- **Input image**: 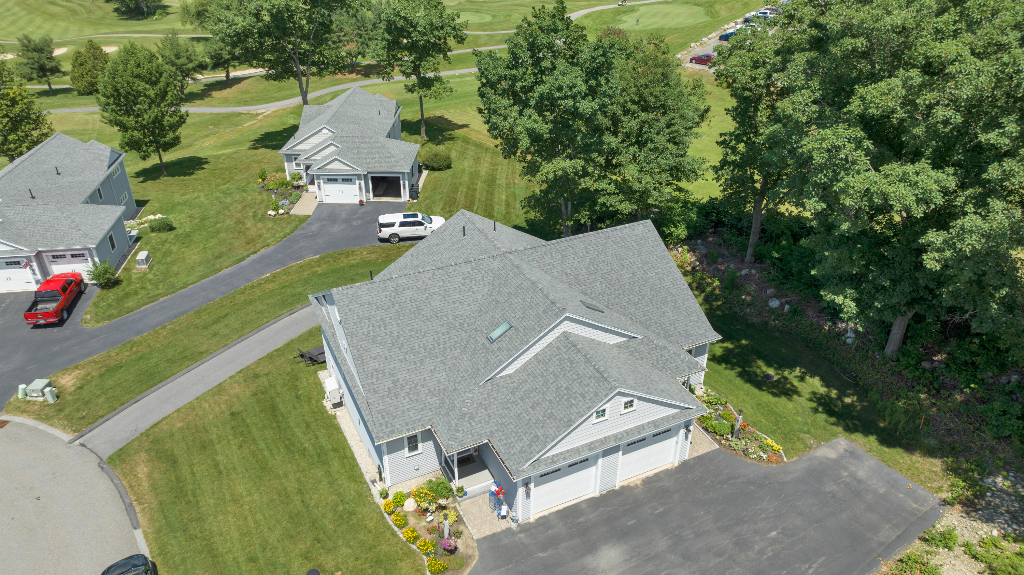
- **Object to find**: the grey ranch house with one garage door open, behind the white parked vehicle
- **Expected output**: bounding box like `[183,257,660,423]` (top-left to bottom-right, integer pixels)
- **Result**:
[280,86,422,205]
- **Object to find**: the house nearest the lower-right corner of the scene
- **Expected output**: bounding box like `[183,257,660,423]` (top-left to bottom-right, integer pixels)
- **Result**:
[308,209,723,522]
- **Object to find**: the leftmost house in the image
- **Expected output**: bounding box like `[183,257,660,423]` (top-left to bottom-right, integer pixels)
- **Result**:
[0,132,130,294]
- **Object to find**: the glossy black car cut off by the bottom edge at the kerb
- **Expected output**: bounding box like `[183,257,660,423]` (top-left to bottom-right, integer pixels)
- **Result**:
[100,547,163,575]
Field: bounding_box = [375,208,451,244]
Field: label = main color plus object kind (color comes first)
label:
white car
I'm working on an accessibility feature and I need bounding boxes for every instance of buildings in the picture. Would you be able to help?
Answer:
[280,86,422,205]
[308,209,723,522]
[0,132,130,294]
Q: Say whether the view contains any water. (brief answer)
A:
No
